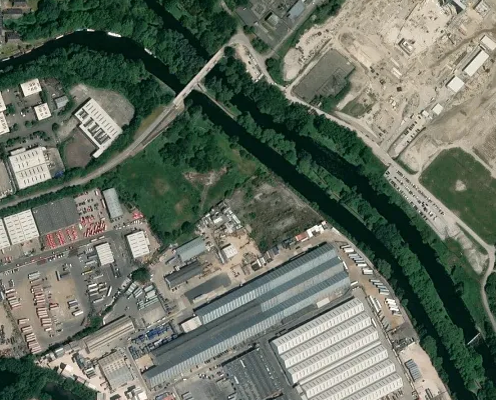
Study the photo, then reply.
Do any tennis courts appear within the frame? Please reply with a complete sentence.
No, there appears to be no tennis court in this shot.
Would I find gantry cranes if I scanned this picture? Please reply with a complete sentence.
No, there is no gantry crane in the image.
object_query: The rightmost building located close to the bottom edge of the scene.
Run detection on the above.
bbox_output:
[272,297,405,400]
